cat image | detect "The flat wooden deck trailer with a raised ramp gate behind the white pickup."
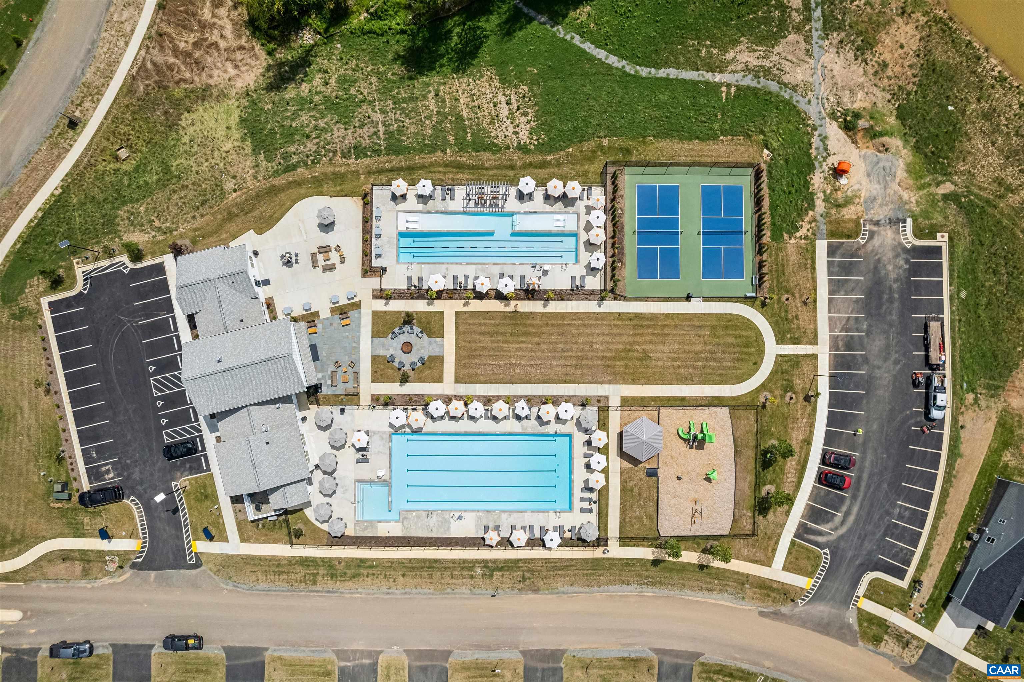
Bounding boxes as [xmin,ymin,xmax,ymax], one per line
[923,320,945,371]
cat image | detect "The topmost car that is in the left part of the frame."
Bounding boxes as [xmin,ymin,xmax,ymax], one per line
[164,440,200,461]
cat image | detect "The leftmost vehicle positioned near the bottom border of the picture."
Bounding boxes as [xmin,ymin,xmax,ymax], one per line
[50,640,96,660]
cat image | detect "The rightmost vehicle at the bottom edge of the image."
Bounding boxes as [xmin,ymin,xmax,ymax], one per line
[163,633,204,652]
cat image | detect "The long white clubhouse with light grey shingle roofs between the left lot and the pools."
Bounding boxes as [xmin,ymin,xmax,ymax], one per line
[176,244,321,509]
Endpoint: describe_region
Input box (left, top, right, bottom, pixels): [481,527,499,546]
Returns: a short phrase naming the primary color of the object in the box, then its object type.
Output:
white umbrella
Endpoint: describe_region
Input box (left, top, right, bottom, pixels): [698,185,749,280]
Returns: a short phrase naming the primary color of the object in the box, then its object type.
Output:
blue sports court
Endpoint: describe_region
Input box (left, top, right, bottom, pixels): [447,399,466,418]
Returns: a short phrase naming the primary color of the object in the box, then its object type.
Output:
white umbrella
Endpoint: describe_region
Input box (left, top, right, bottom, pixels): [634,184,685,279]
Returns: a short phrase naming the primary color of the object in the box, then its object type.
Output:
blue sports court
